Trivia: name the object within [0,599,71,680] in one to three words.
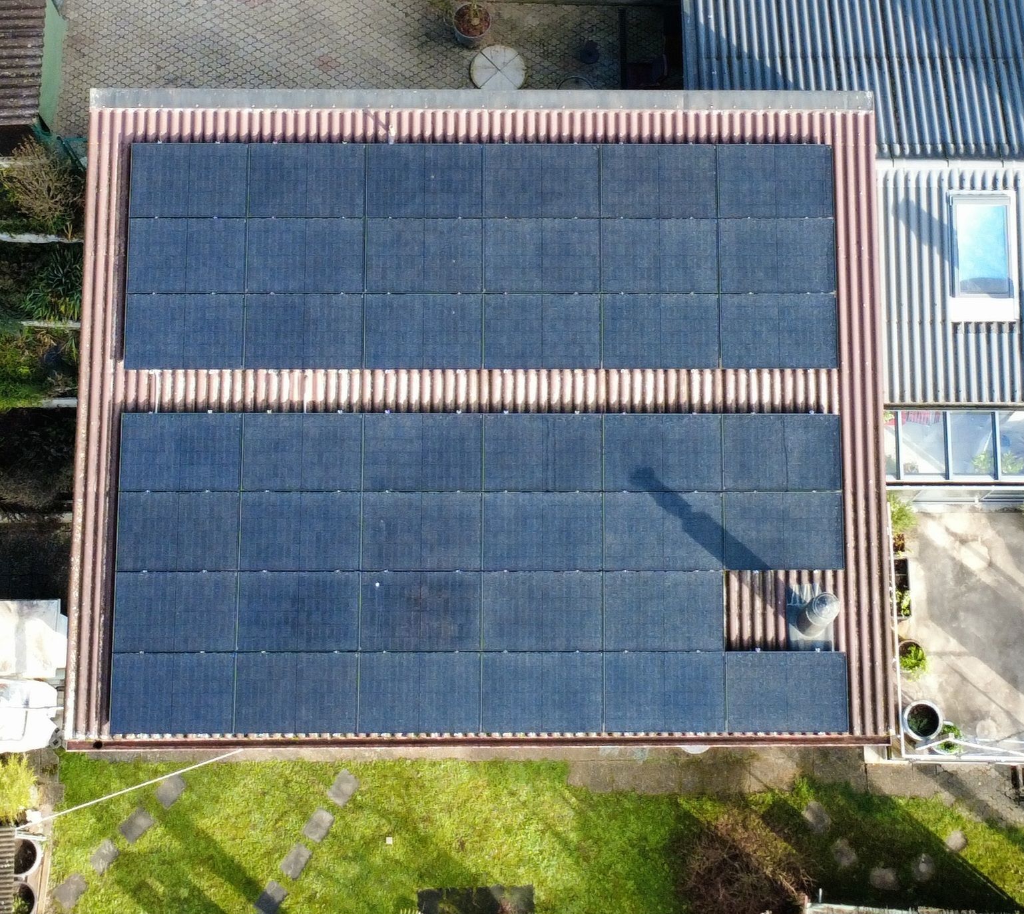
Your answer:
greenhouse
